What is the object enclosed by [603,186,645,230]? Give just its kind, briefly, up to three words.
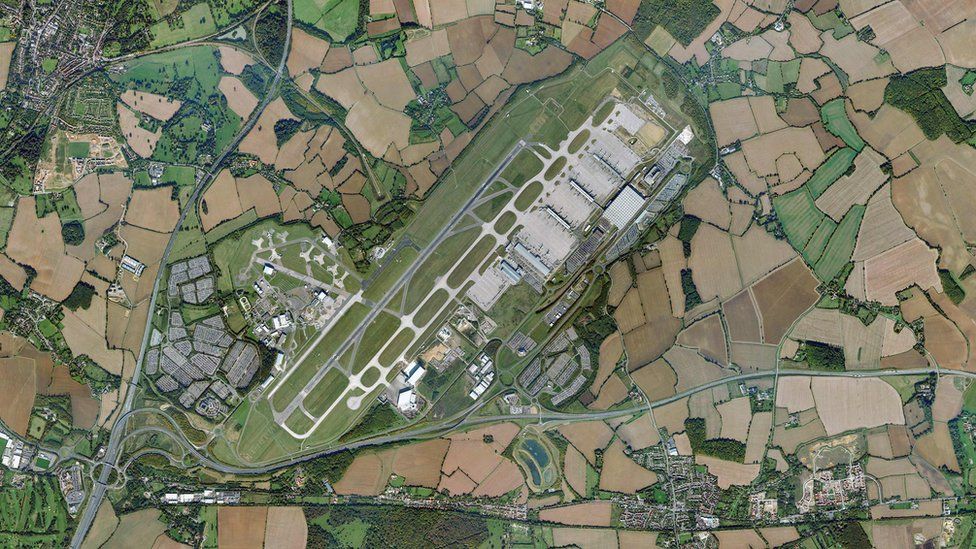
building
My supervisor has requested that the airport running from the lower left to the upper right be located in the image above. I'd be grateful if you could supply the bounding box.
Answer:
[221,42,698,462]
